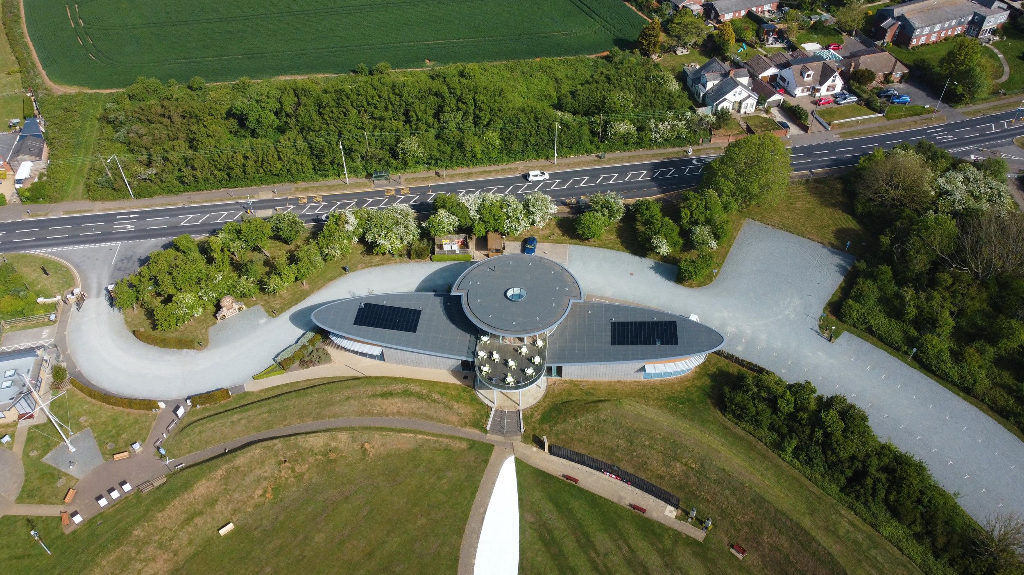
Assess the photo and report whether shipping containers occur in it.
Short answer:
No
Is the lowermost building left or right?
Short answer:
left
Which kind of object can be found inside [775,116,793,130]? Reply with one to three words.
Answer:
car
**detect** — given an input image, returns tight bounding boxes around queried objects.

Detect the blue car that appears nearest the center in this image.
[524,239,537,256]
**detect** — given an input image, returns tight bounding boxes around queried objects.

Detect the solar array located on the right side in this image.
[611,321,678,346]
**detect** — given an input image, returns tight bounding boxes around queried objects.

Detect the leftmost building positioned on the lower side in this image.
[0,348,47,424]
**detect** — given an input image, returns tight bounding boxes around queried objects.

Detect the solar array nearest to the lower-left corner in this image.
[354,303,422,334]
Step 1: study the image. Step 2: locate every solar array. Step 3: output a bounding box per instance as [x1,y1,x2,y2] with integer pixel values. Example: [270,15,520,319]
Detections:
[354,303,422,334]
[611,321,678,346]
